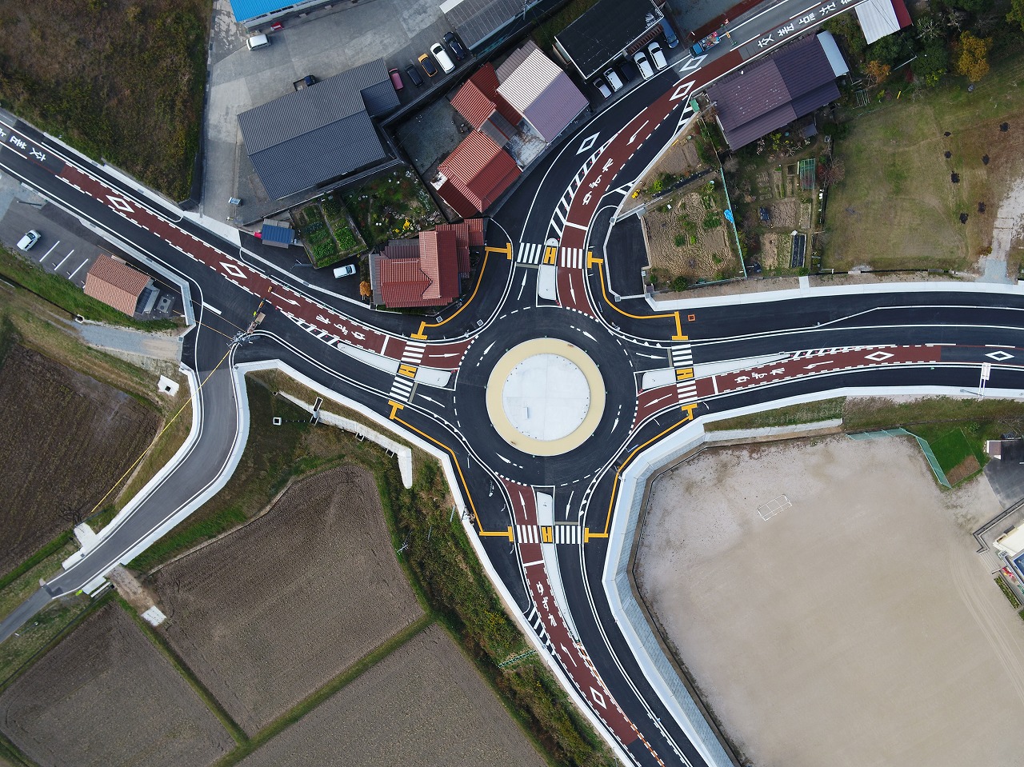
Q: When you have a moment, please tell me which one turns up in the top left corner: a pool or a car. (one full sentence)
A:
There is a car in the top left corner.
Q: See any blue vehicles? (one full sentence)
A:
Yes, the frame does contain a blue vehicle.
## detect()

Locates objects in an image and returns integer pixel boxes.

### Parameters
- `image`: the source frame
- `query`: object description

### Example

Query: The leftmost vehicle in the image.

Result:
[17,228,43,253]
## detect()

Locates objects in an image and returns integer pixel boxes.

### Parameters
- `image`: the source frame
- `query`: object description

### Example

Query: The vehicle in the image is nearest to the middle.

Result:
[333,264,358,278]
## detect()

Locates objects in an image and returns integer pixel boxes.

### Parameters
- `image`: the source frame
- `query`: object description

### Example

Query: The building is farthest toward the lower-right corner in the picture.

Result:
[982,510,1024,557]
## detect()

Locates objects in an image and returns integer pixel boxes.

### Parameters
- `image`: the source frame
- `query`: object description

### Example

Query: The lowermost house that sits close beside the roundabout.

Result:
[370,219,483,307]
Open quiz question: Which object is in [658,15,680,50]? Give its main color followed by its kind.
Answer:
blue car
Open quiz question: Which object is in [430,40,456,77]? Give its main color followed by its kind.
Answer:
white car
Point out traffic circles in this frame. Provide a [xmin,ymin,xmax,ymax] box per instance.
[456,307,635,484]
